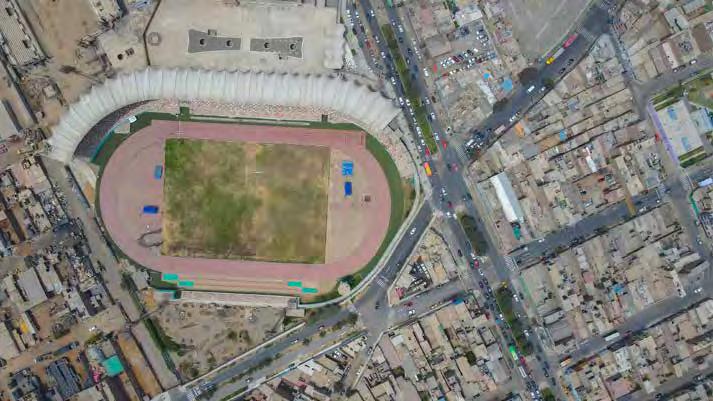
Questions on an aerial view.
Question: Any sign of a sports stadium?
Yes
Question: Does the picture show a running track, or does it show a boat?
running track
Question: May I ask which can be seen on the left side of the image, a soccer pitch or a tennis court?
soccer pitch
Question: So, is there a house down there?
Yes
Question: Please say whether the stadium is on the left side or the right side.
left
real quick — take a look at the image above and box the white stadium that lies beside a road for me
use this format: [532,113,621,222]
[47,69,422,308]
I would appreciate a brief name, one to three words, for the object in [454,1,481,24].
building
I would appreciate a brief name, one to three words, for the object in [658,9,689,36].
building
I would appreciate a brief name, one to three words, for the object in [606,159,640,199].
house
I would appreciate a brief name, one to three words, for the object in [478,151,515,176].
house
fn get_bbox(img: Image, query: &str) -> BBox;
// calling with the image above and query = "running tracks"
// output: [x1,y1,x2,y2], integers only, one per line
[99,121,391,297]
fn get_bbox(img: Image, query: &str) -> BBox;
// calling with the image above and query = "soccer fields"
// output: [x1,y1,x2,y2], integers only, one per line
[162,139,330,264]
